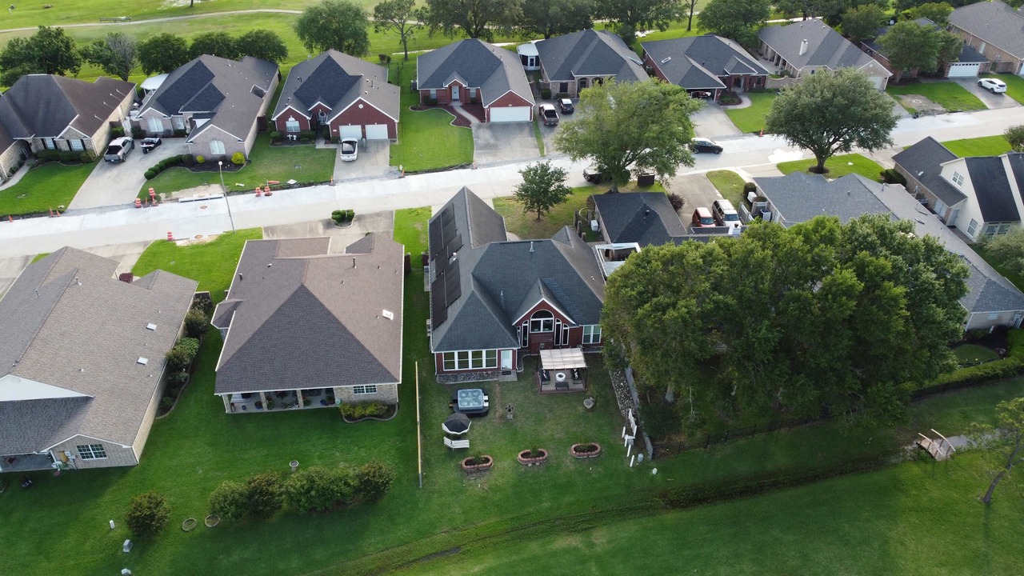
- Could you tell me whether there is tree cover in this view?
Yes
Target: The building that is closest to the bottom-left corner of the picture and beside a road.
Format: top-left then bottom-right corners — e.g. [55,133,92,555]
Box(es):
[0,242,201,478]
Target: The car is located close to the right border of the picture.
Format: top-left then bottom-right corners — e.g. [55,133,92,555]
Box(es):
[973,75,1016,93]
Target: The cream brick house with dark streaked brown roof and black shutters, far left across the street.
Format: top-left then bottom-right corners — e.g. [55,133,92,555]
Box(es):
[0,62,143,189]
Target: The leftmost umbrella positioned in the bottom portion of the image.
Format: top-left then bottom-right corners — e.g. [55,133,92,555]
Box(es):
[442,408,470,440]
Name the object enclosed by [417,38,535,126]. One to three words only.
house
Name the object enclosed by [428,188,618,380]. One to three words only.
house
